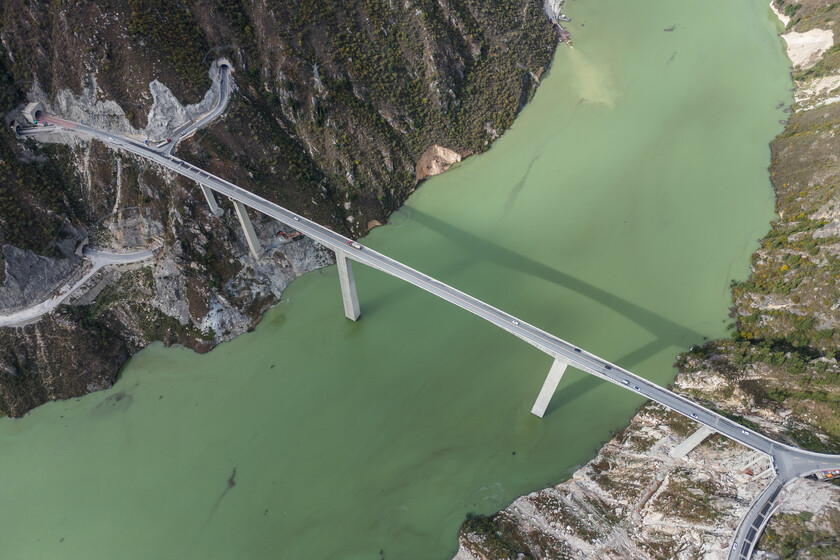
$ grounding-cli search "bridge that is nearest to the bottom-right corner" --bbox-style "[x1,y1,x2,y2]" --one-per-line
[727,473,793,560]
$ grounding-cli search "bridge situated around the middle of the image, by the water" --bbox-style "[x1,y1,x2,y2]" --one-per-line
[150,151,766,461]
